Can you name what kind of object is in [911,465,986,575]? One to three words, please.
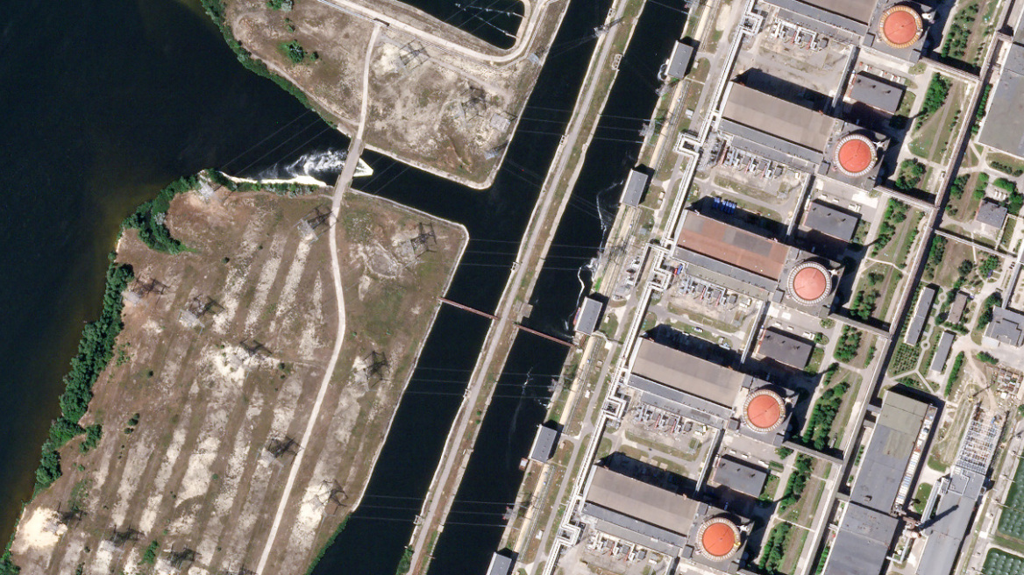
building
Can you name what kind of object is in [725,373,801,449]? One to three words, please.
building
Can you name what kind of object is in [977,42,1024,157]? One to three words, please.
shed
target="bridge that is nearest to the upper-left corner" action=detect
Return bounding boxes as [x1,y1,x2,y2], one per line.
[332,138,364,199]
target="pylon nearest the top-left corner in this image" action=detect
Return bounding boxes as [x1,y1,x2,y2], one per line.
[201,181,222,206]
